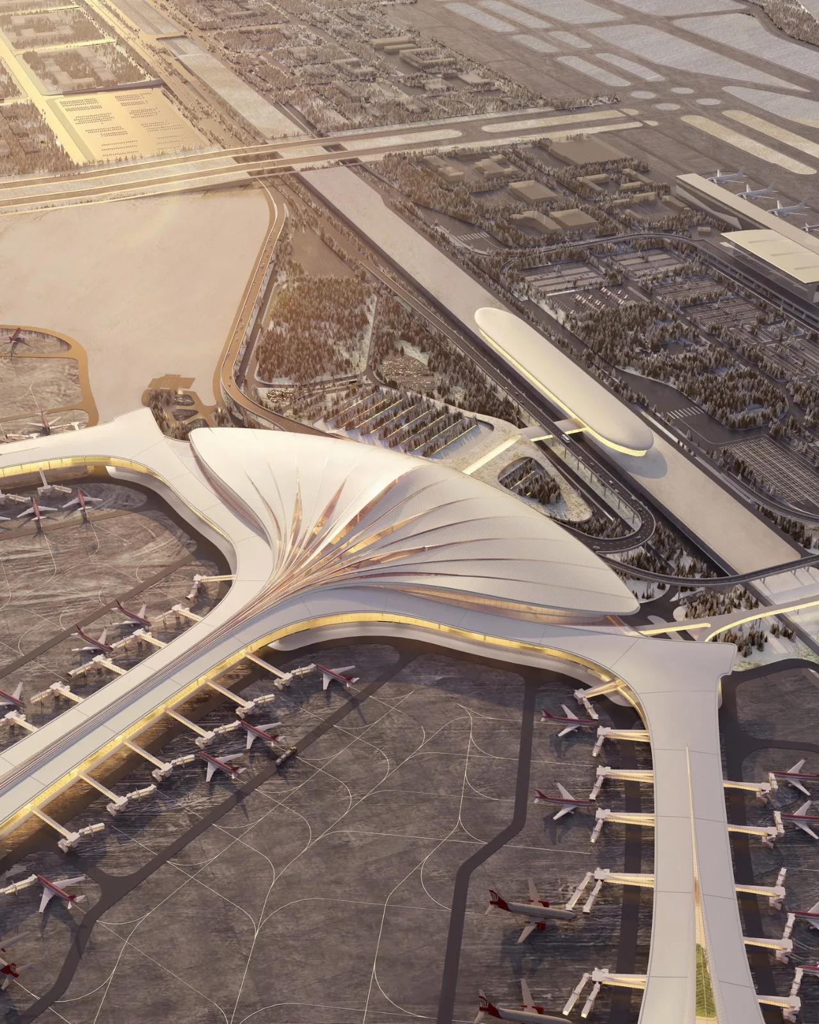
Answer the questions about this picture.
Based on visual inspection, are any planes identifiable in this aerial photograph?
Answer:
Yes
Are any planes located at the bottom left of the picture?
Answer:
Yes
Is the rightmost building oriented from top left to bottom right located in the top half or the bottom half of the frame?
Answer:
top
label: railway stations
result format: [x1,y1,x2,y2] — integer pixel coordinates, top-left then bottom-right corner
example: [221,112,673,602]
[475,307,653,458]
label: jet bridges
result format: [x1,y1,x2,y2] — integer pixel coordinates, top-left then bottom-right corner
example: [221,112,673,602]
[728,810,782,853]
[186,575,235,603]
[49,420,80,432]
[566,869,655,920]
[65,656,128,681]
[152,606,204,625]
[735,866,787,914]
[126,743,199,783]
[589,765,654,805]
[591,728,650,762]
[40,472,74,499]
[0,710,39,732]
[0,489,33,508]
[169,711,243,749]
[561,968,647,1024]
[82,776,160,819]
[109,630,166,653]
[35,810,109,857]
[744,911,795,968]
[589,809,655,848]
[572,678,625,722]
[0,872,41,900]
[723,771,777,808]
[207,683,278,721]
[758,965,804,1024]
[28,683,83,707]
[250,654,317,692]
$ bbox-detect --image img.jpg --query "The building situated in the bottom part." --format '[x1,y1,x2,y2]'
[0,408,765,1024]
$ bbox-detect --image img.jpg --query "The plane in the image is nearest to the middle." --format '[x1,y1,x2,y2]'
[316,661,362,689]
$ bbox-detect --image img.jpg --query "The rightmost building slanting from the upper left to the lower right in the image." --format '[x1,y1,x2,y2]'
[676,173,819,298]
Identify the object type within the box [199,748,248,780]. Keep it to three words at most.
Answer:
airplane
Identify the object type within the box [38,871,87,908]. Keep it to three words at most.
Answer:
airplane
